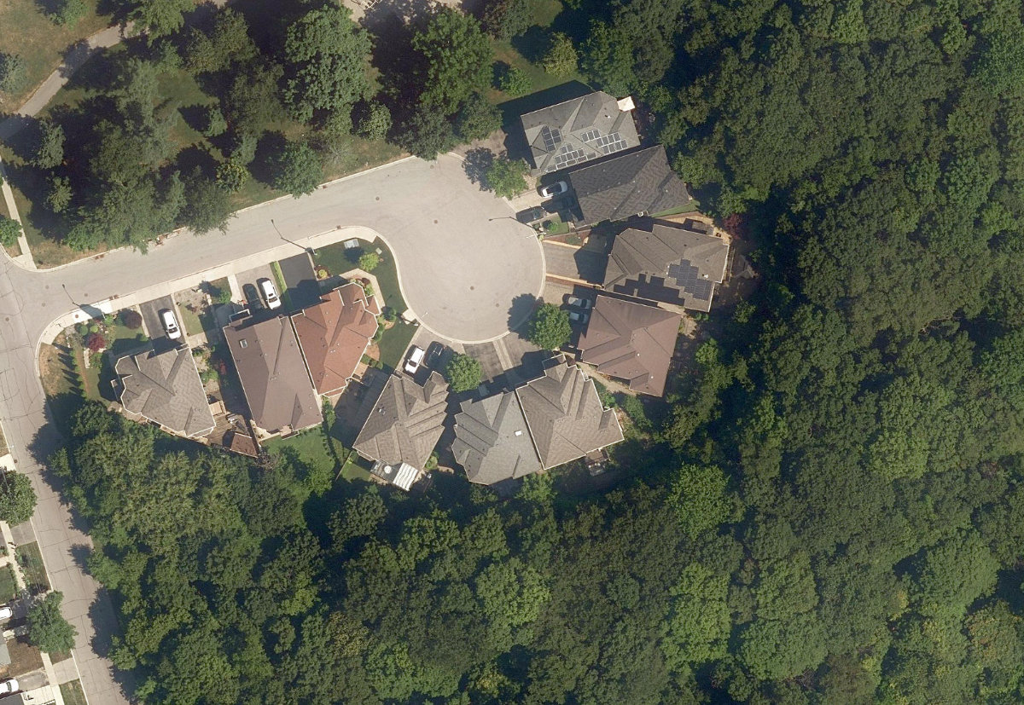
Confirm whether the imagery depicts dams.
No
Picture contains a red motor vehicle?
No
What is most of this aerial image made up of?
trees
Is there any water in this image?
No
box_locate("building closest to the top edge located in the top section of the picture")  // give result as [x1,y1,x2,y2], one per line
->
[520,91,641,176]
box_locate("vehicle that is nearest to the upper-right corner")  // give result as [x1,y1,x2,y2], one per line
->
[540,180,569,198]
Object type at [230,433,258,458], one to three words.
shed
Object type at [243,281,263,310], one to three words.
car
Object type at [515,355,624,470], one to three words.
house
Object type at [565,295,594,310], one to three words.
car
